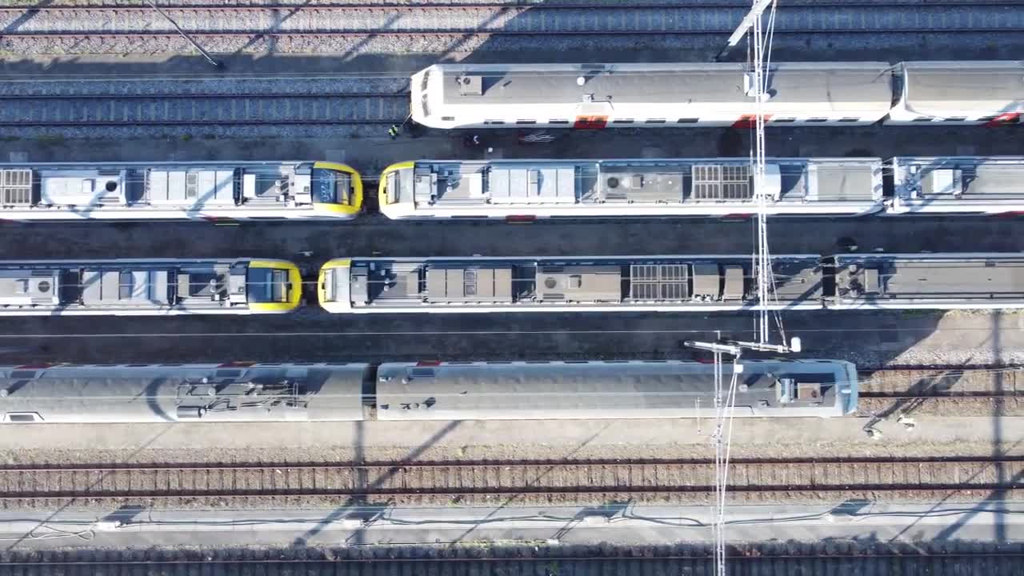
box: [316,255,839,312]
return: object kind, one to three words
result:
rail car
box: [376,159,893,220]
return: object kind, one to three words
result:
rail car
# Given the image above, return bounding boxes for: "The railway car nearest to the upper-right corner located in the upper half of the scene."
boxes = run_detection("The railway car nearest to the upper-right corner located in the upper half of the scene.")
[875,63,1024,129]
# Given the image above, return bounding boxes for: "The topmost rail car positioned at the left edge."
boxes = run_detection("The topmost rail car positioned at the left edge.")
[0,162,365,222]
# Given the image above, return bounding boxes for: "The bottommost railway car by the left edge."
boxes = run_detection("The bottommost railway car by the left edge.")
[0,363,376,423]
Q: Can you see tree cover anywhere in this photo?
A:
No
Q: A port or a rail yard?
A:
rail yard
